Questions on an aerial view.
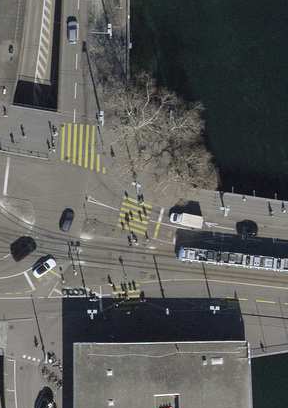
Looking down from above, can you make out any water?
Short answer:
Yes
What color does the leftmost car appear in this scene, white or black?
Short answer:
black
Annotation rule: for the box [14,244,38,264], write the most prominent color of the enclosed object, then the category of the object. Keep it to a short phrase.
black car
